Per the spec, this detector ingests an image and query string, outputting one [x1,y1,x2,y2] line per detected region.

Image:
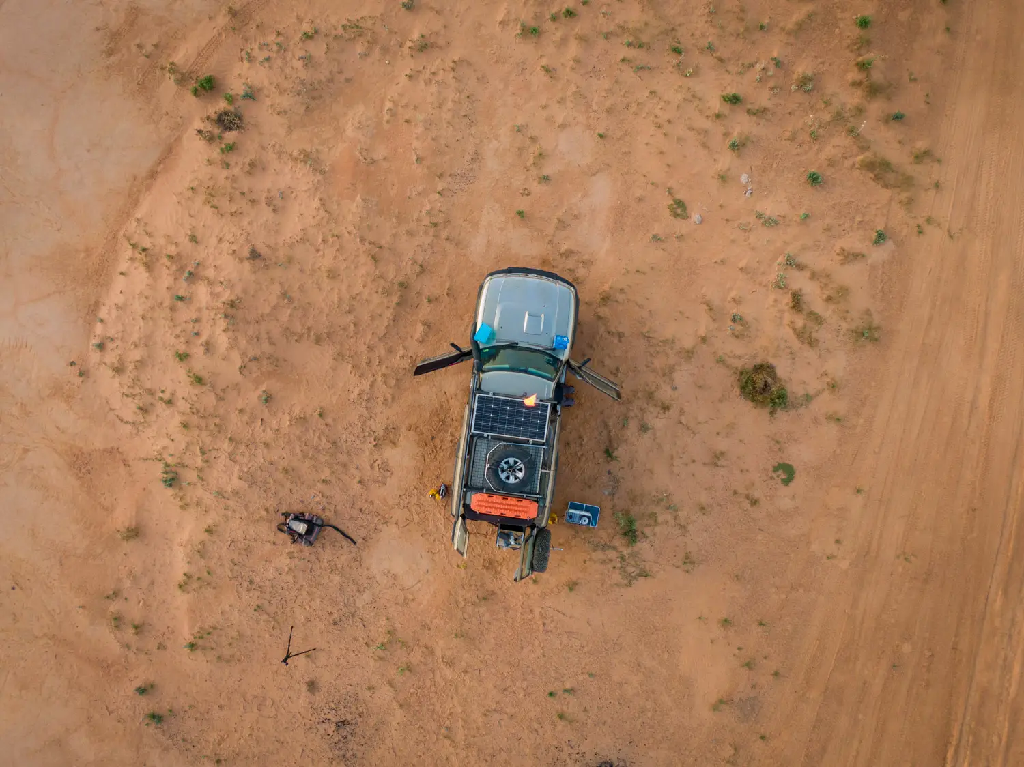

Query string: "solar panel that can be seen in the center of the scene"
[472,395,550,441]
